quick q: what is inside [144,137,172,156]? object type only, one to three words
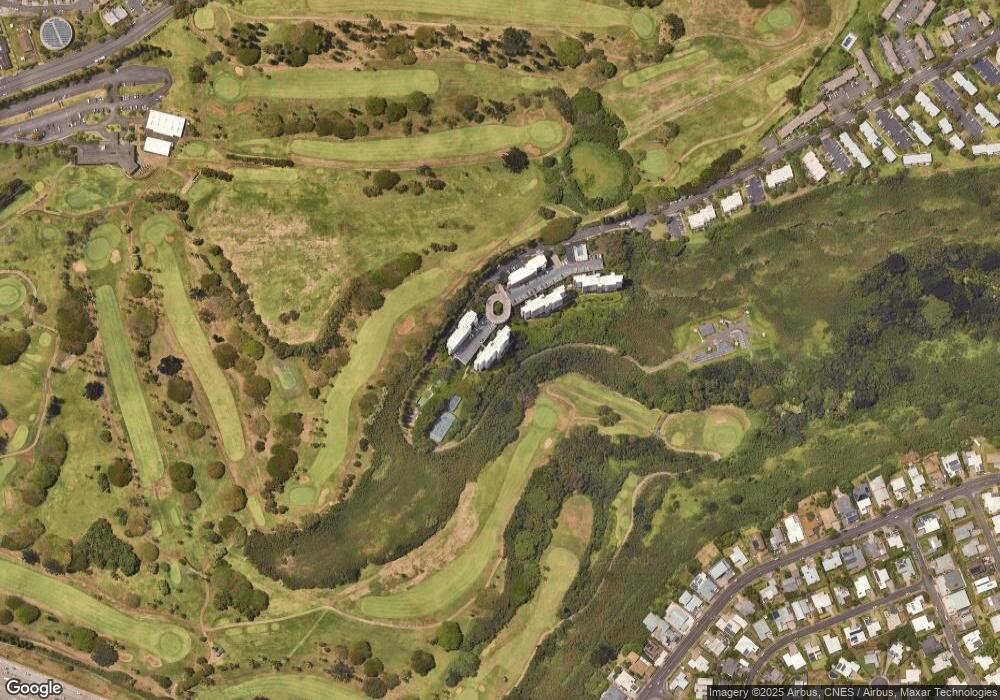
shed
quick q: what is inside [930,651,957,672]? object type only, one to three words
house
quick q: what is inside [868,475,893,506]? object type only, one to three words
house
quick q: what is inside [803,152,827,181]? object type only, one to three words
building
